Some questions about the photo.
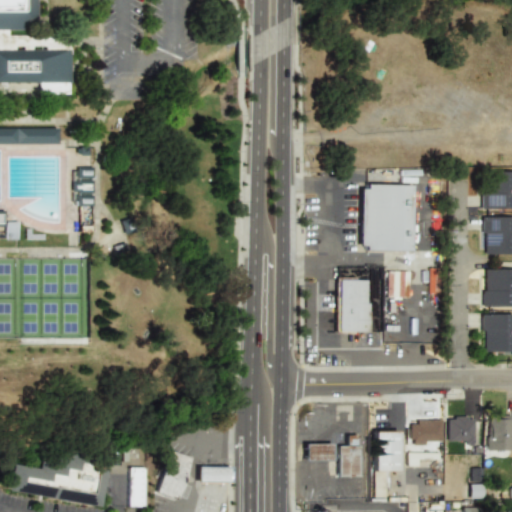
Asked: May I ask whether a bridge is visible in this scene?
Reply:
Yes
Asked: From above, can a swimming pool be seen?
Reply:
Yes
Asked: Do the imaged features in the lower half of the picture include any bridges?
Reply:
No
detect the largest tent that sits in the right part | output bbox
[389,271,412,298]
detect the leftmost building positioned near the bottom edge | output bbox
[14,460,110,508]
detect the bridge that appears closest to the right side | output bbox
[251,16,298,66]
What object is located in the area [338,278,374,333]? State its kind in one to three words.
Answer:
building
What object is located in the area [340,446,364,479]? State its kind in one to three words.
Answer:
shed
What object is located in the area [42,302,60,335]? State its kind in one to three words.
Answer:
sports court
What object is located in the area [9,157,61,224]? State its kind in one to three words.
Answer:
swimming pool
